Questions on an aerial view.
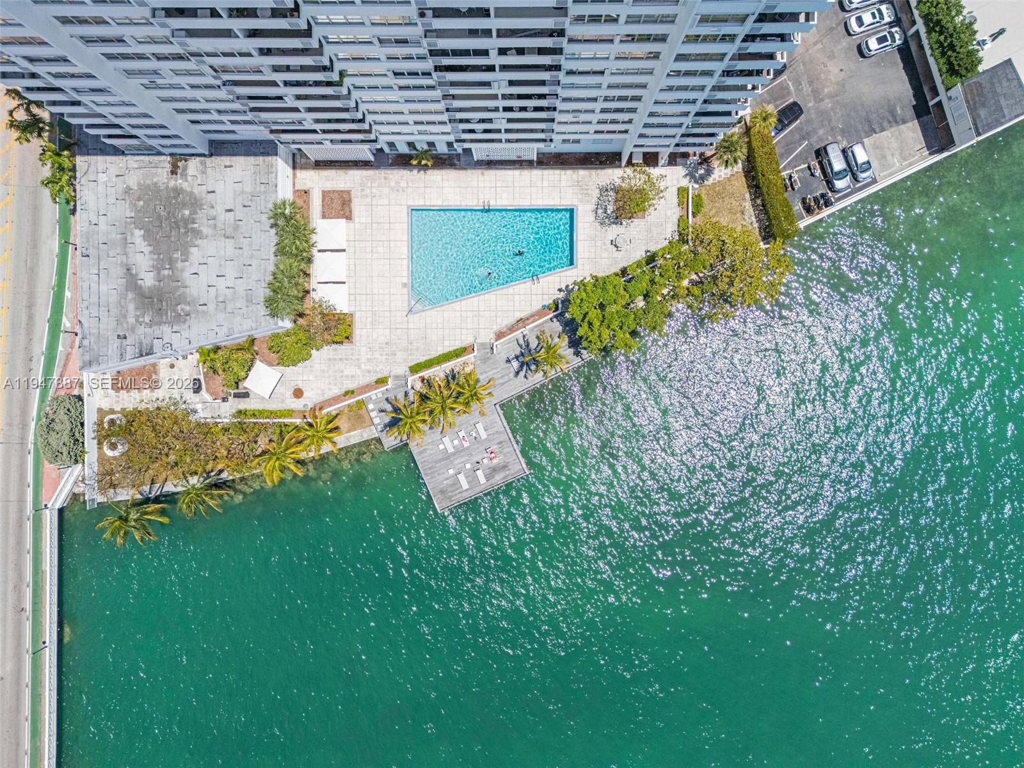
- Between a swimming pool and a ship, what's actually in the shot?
swimming pool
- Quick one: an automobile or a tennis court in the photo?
automobile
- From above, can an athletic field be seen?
No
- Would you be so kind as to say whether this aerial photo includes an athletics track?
No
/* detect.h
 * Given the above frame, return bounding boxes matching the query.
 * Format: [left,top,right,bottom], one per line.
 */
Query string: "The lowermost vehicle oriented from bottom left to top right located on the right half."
[772,98,808,141]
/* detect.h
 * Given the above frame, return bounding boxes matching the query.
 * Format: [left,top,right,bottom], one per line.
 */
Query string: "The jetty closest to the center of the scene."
[363,310,594,512]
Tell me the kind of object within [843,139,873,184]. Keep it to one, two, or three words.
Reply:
car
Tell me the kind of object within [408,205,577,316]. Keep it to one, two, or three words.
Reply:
swimming pool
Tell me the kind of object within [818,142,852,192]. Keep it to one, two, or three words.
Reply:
car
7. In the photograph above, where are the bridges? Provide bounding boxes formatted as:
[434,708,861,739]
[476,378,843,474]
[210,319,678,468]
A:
[0,453,83,768]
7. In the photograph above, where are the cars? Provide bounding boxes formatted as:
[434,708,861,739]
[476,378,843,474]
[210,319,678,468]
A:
[772,98,808,141]
[818,142,852,192]
[858,26,905,59]
[843,139,873,184]
[846,5,894,35]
